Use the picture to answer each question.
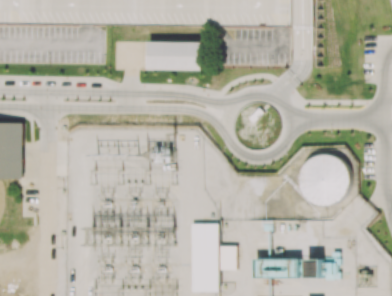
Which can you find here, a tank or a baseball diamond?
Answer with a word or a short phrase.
tank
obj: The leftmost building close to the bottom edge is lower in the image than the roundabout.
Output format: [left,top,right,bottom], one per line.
[193,223,240,292]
